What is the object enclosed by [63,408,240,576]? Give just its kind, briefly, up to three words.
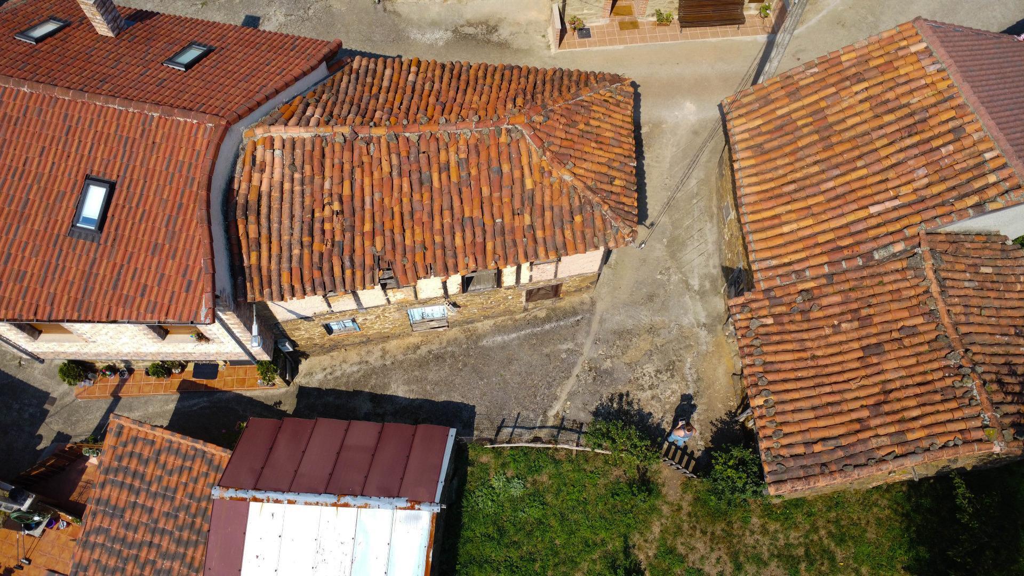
house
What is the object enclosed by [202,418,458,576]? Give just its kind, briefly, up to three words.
shed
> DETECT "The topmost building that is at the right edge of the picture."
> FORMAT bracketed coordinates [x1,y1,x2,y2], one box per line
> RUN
[714,12,1024,300]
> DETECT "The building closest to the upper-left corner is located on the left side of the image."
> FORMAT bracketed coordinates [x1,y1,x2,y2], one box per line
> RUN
[0,0,344,368]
